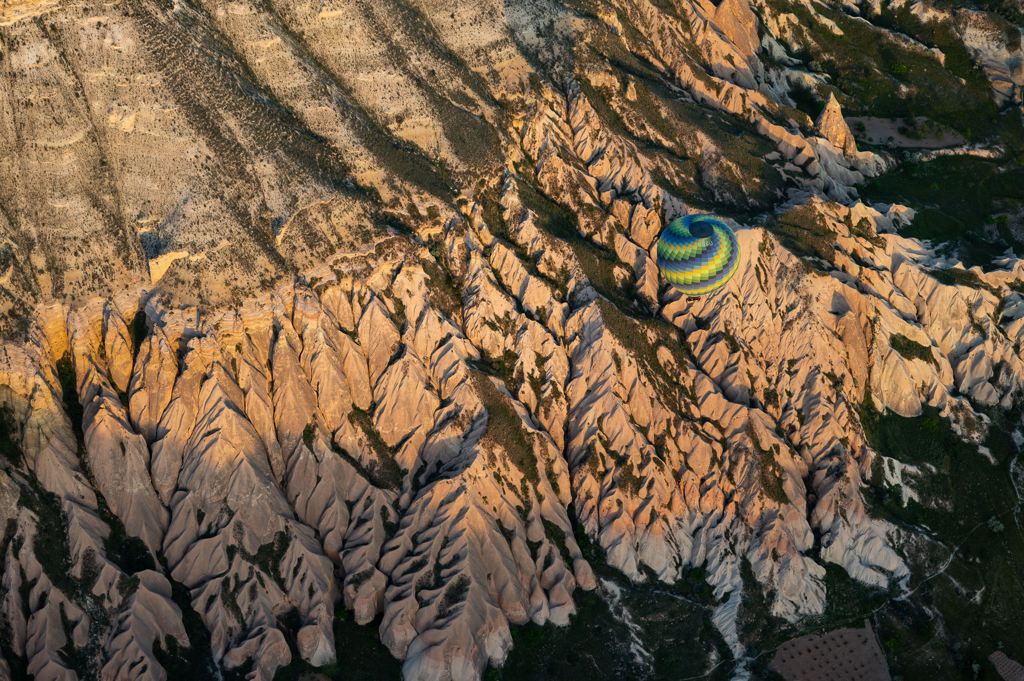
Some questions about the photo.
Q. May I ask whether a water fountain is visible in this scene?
No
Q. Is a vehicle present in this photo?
No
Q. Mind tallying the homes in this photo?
0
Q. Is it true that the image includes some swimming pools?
No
